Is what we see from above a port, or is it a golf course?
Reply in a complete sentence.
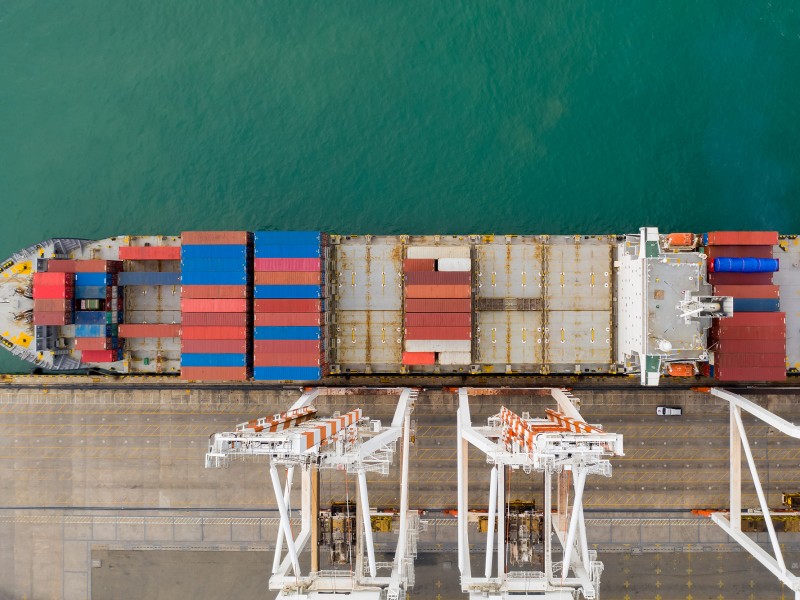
This looks like a port.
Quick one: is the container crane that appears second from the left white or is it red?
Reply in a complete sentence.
The color of the container crane that appears second from the left is white.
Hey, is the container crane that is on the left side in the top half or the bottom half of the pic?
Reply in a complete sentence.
Seen from above, the container crane that is on the left side lies in the bottom half of the view.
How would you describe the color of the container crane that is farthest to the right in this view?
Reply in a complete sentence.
From above, the container crane that is farthest to the right appears white.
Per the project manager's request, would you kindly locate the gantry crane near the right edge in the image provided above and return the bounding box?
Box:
[695,383,800,600]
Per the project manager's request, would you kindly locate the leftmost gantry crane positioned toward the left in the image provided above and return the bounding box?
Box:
[202,381,429,600]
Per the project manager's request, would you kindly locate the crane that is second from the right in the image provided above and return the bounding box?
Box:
[440,382,628,600]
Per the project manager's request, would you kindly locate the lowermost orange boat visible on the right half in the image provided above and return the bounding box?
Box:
[662,364,695,377]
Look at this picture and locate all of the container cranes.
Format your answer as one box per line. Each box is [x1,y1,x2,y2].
[695,383,800,600]
[440,382,628,600]
[202,381,429,600]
